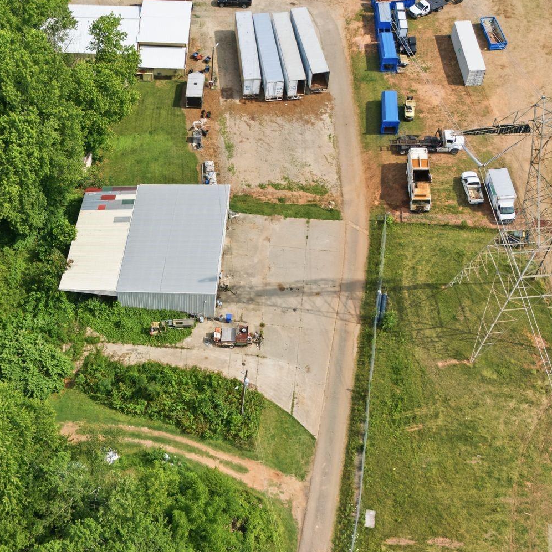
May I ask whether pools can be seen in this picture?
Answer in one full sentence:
No, there is no pool in the image.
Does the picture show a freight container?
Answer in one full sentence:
Yes, a freight container is visible in the scene.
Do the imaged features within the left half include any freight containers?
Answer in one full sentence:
No, I see no freight container within the left half.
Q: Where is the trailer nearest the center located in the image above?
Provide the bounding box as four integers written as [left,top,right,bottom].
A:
[204,326,255,347]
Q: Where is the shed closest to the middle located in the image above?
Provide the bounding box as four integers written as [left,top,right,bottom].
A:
[116,182,231,319]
